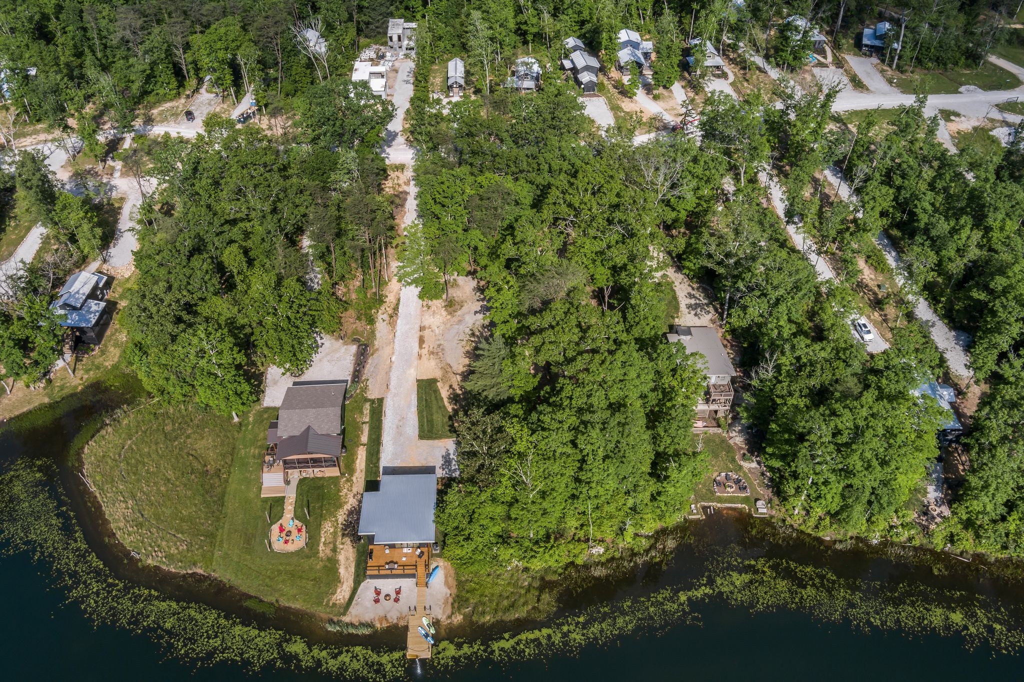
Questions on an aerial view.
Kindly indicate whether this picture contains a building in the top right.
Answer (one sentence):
Yes, there is a building in the top right.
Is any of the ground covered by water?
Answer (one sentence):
Yes, there is water in the image.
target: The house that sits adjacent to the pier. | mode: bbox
[358,474,440,560]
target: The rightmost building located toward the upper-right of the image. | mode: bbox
[858,18,899,57]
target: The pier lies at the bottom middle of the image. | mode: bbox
[405,587,432,659]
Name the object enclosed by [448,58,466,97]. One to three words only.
house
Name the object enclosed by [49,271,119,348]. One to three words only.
house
